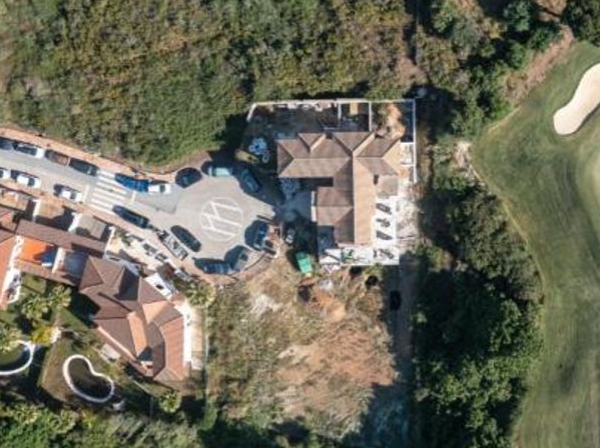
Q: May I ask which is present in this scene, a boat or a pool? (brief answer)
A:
pool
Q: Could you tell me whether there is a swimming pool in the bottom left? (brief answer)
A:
Yes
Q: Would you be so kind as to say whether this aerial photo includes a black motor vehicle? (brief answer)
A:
Yes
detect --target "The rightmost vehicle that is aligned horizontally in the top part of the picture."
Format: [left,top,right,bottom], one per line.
[209,165,234,177]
